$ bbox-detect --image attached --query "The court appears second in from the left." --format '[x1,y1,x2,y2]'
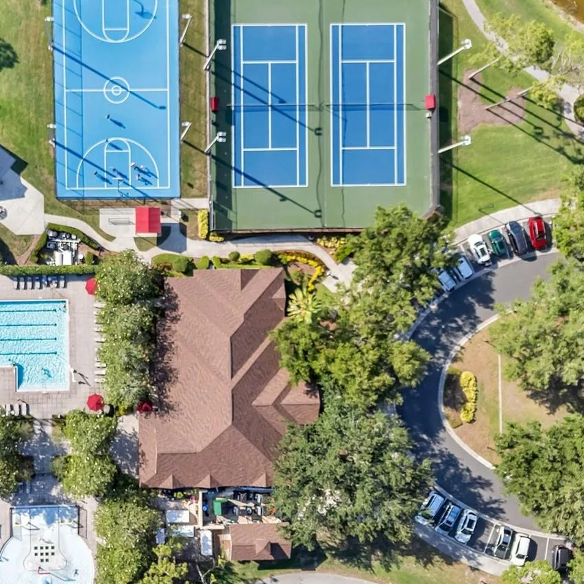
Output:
[213,0,323,229]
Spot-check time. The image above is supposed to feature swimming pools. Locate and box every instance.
[0,506,96,584]
[0,299,71,392]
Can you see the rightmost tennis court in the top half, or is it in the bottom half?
top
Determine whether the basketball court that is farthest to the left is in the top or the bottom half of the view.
top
